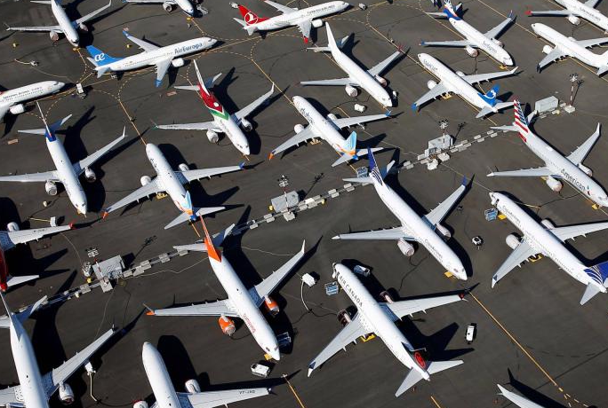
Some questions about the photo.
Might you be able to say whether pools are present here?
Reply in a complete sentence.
No, the photo shows no pool.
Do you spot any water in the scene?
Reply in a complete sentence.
No, there's no water in this view.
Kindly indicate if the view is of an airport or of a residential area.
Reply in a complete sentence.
What you see here is an airport.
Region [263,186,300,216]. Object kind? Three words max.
shed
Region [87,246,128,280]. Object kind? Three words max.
shed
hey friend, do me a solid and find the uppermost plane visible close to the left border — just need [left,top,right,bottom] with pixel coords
[2,0,117,50]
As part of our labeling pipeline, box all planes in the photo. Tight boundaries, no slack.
[144,218,308,358]
[306,267,466,398]
[151,61,278,155]
[269,98,390,168]
[295,24,403,107]
[490,195,608,304]
[527,0,608,35]
[2,0,117,50]
[332,150,467,278]
[130,343,274,408]
[421,0,515,66]
[87,29,220,88]
[531,25,608,75]
[488,101,608,206]
[0,218,80,291]
[0,82,70,133]
[0,290,123,408]
[100,145,247,230]
[0,106,132,210]
[412,58,516,118]
[233,0,348,44]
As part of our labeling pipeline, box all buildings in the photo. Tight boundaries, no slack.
[87,246,128,280]
[422,130,456,156]
[263,186,300,216]
[532,95,560,118]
